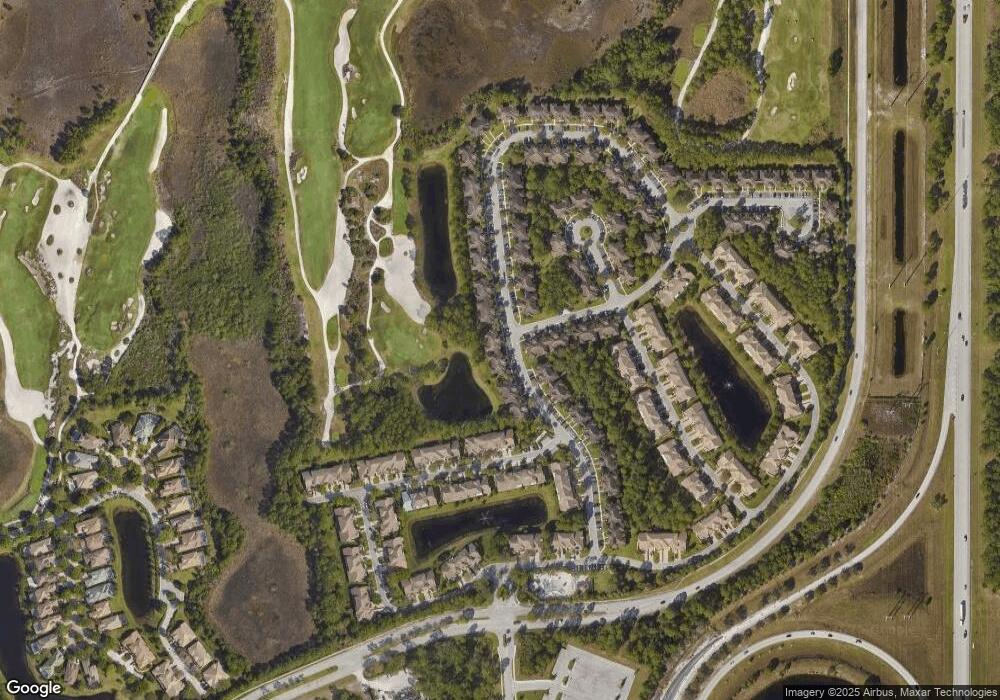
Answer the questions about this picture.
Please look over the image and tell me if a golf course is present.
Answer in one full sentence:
Yes, you can see a golf course in this photo.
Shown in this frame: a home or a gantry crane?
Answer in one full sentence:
Visible in the photo is a home.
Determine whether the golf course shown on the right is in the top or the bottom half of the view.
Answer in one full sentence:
You can find the golf course shown on the right in the top half.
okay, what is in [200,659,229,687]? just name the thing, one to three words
house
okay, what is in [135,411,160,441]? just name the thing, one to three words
house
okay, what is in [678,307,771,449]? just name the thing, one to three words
pond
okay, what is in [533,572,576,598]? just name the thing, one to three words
swimming pool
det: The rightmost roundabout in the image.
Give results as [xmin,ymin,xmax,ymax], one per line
[779,197,814,237]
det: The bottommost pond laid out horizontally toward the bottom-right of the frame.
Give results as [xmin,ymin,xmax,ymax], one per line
[757,674,867,700]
